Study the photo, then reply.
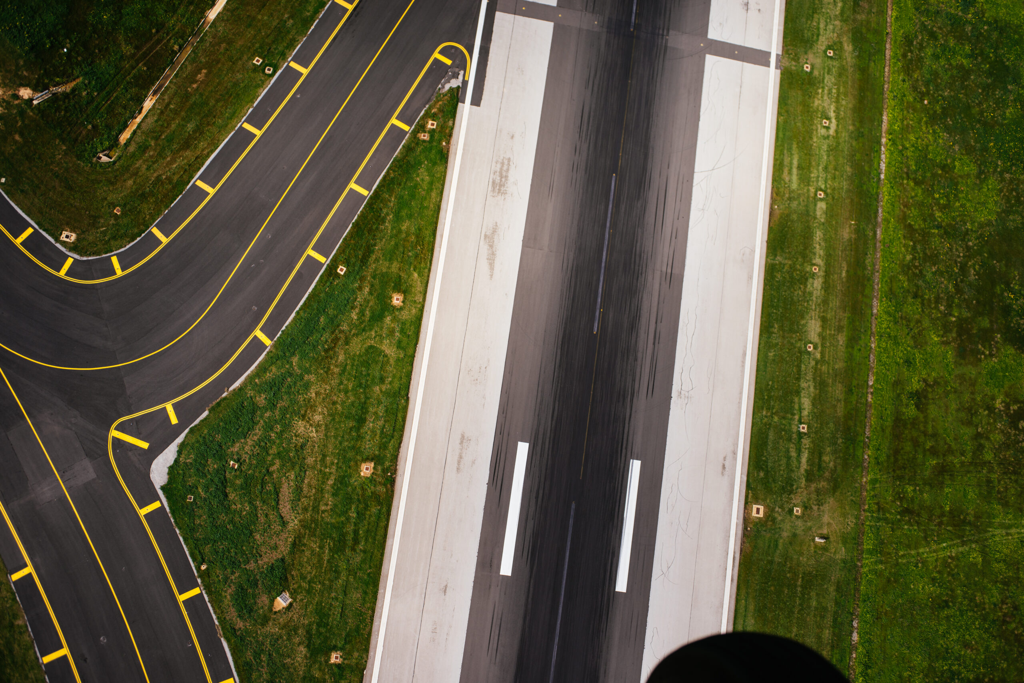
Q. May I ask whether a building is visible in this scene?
No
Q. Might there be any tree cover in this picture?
No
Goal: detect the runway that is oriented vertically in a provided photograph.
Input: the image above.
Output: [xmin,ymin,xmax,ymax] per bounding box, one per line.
[364,0,787,683]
